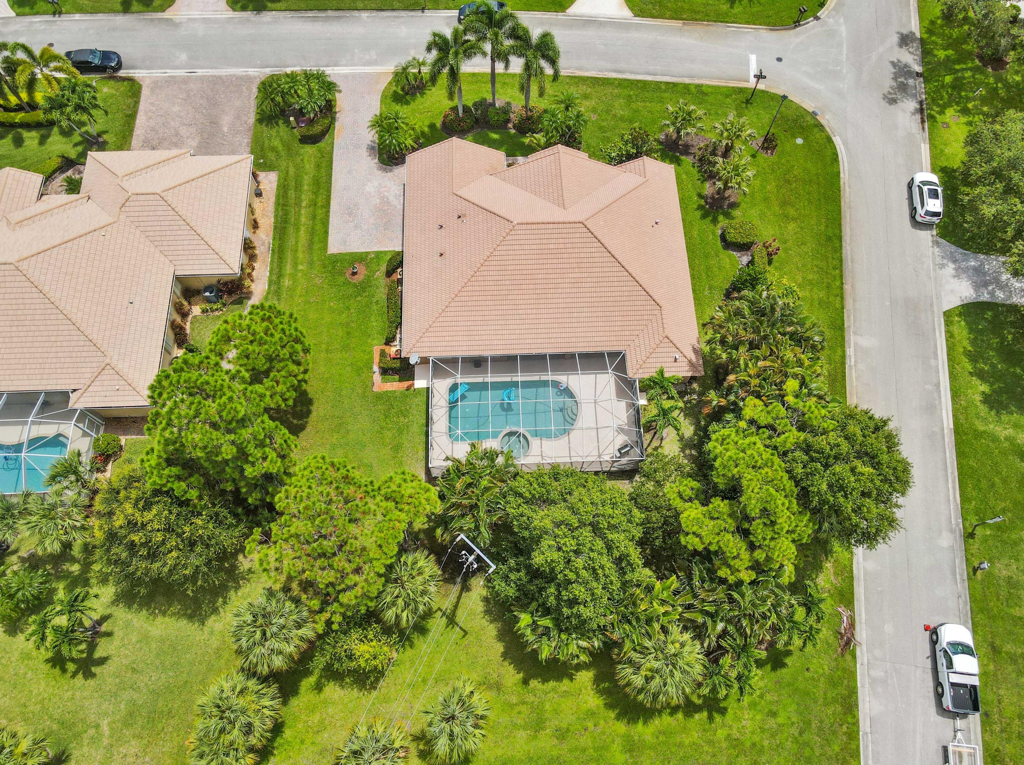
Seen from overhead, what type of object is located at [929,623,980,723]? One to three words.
truck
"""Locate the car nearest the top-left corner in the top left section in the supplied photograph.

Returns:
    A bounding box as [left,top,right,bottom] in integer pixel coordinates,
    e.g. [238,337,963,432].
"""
[63,48,124,77]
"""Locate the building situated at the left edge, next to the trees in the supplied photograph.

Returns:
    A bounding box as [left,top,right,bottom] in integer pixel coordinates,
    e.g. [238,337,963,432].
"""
[0,148,257,414]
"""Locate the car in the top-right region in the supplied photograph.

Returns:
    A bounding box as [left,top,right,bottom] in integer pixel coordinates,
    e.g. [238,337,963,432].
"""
[908,175,944,229]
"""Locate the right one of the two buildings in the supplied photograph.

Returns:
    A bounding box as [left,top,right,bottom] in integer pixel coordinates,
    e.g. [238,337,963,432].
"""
[401,132,706,384]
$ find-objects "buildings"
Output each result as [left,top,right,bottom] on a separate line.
[401,132,706,384]
[0,148,257,414]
